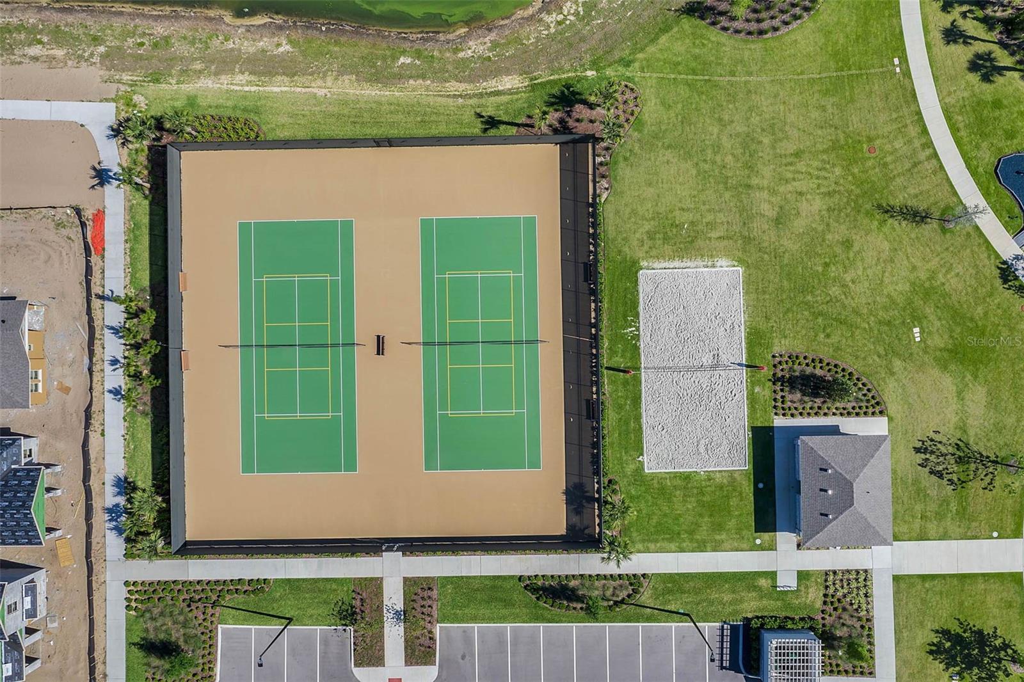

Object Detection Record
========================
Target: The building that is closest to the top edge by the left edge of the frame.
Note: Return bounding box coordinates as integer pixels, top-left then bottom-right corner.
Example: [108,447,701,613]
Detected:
[0,300,46,408]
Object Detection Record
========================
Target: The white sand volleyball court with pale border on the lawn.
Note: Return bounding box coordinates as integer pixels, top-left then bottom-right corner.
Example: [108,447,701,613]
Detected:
[639,267,748,473]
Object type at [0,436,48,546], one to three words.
house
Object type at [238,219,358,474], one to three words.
tennis court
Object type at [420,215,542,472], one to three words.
tennis court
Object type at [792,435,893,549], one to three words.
building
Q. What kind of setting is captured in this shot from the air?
sports ground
